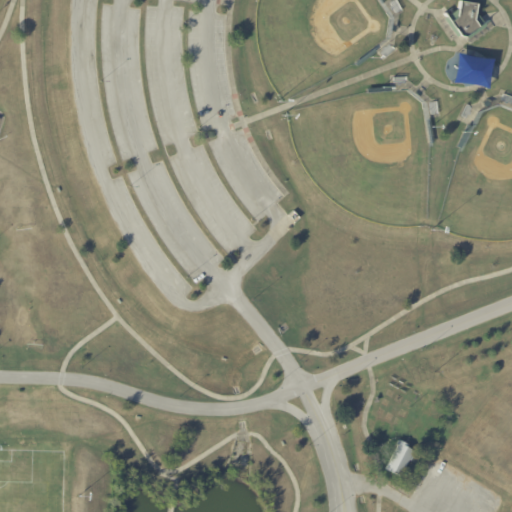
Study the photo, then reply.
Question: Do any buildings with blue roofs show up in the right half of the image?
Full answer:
Yes, looking in the right half of the image, one can make out a building with a blue roof.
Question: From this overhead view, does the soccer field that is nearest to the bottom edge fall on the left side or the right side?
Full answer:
It is on the left.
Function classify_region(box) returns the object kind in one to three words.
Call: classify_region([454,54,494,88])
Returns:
building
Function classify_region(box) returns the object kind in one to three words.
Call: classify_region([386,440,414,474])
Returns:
house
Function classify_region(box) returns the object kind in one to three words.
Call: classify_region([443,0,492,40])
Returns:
building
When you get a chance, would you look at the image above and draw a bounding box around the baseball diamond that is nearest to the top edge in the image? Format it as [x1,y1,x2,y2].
[258,0,388,98]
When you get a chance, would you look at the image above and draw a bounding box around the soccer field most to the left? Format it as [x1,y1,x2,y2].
[0,448,66,512]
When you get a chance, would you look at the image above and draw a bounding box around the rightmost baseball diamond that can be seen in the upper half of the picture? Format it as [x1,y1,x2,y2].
[438,106,512,240]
